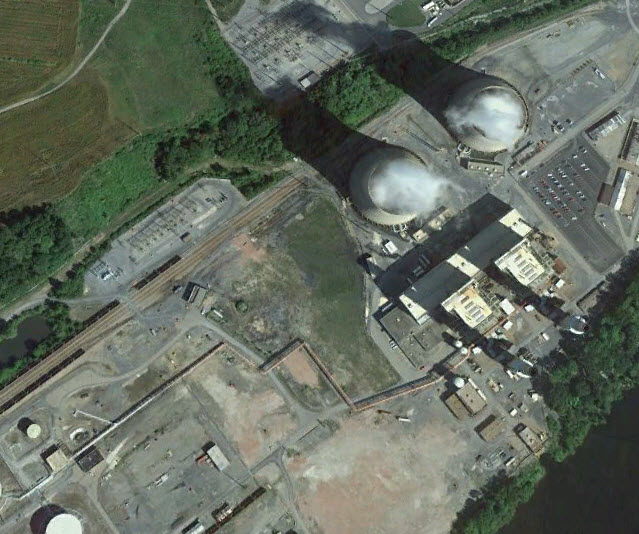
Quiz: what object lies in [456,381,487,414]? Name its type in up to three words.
building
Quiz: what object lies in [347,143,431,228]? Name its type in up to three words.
cooling tower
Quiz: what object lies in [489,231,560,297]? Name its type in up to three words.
building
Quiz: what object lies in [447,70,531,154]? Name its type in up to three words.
cooling tower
